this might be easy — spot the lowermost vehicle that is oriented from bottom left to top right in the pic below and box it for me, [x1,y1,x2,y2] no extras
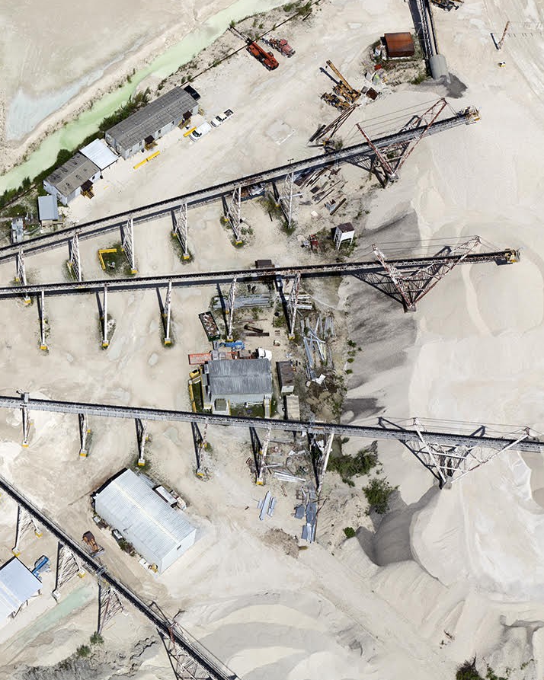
[31,552,51,577]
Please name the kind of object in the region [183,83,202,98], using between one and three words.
car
